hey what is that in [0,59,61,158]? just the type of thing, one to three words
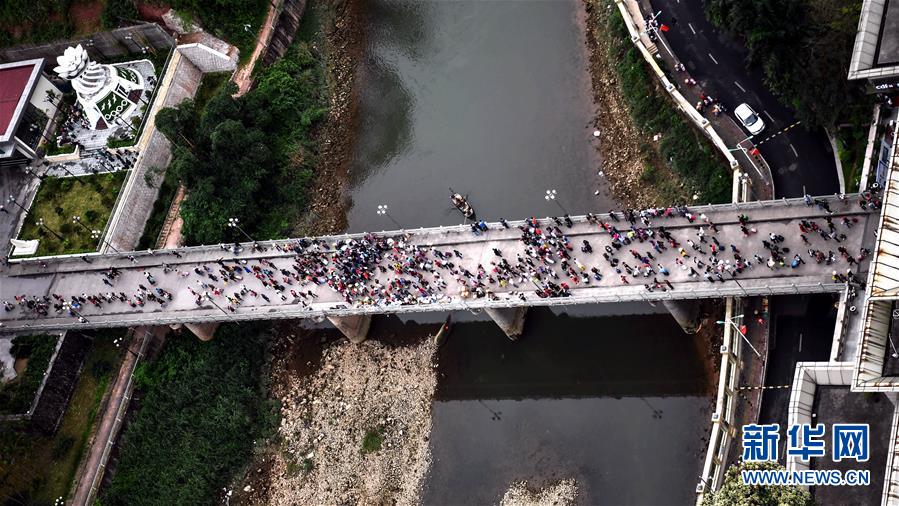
building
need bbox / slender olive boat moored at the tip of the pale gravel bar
[430,311,454,349]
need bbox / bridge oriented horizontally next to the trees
[0,195,878,342]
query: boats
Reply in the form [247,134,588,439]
[444,188,481,220]
[430,311,454,349]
